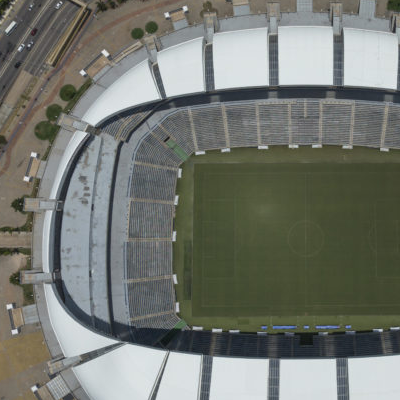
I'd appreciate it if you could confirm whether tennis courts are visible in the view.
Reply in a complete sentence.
No, the scene contains no tennis court.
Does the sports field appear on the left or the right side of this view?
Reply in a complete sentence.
It is on the right.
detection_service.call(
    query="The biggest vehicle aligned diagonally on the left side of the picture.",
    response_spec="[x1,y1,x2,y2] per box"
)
[3,19,20,38]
